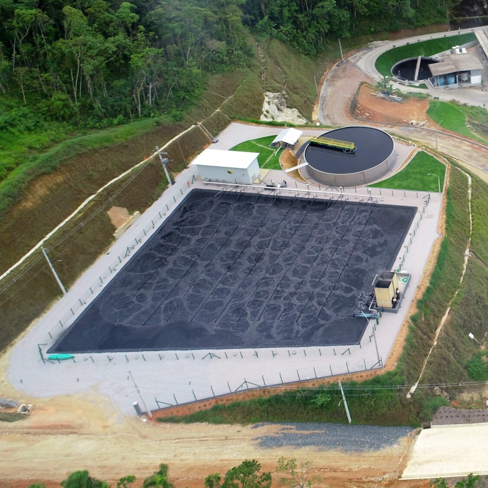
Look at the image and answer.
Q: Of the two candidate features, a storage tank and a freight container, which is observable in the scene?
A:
storage tank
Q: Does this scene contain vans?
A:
No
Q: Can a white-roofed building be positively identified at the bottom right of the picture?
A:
No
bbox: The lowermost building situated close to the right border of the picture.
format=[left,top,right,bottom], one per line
[428,53,484,89]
